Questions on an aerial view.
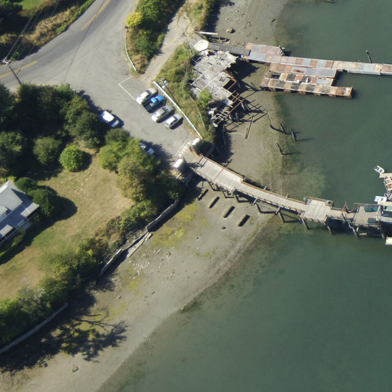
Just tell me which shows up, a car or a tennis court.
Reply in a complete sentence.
Visible in the photo is a car.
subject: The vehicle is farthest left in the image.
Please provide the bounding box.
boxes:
[101,109,119,126]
